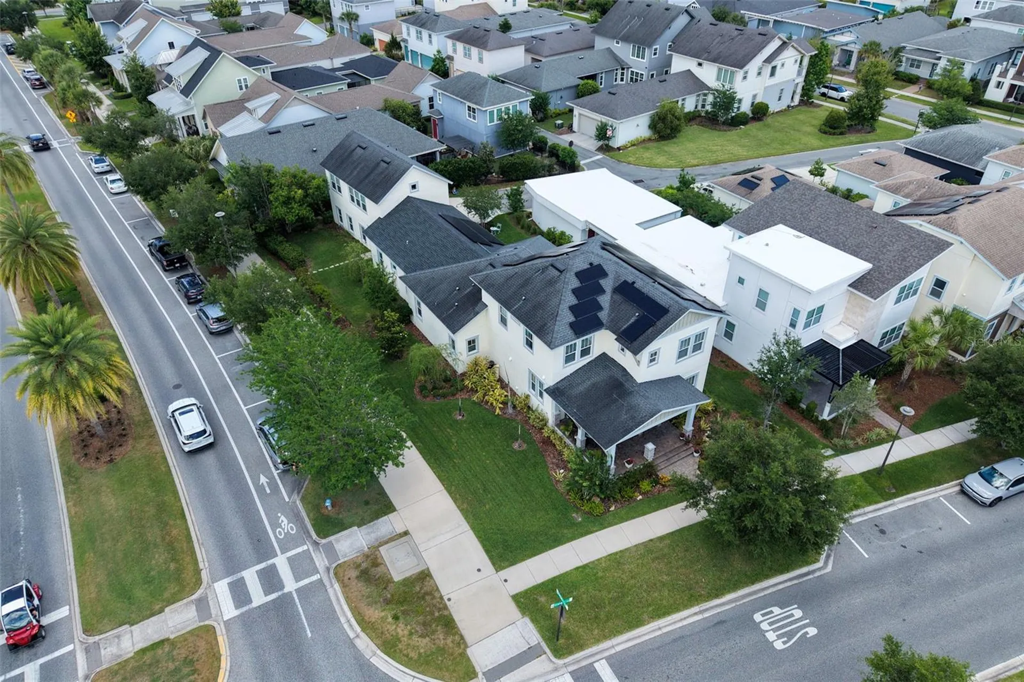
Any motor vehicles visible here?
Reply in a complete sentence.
Yes, looking at the shot, I can spot a motor vehicle.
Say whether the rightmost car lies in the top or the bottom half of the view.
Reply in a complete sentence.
You can find the rightmost car in the bottom half.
